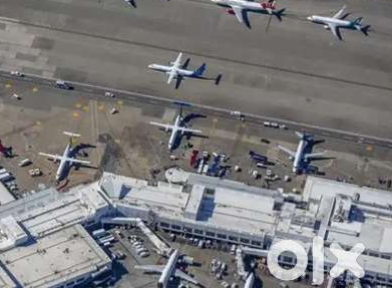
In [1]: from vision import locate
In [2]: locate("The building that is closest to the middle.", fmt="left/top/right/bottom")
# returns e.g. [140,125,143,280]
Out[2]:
[101,168,278,250]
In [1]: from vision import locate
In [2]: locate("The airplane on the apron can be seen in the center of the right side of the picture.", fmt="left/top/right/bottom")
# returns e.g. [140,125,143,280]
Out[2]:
[276,127,326,175]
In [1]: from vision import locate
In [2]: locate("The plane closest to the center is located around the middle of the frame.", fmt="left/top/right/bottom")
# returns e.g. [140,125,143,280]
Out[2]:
[150,102,202,148]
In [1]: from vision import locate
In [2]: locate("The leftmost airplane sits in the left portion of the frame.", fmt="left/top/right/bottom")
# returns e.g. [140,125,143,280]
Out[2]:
[39,131,91,180]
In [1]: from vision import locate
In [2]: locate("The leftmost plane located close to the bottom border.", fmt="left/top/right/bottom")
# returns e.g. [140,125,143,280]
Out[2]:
[132,251,197,288]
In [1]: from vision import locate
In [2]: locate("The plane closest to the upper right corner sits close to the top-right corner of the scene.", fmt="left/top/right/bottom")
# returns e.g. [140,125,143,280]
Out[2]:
[307,6,364,35]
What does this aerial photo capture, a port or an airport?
airport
